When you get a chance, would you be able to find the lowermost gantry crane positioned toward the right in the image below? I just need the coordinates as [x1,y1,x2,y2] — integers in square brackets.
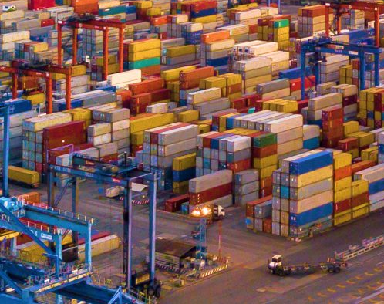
[298,38,384,99]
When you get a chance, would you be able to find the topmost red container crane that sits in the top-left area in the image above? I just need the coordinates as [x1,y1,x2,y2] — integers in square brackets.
[55,14,133,82]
